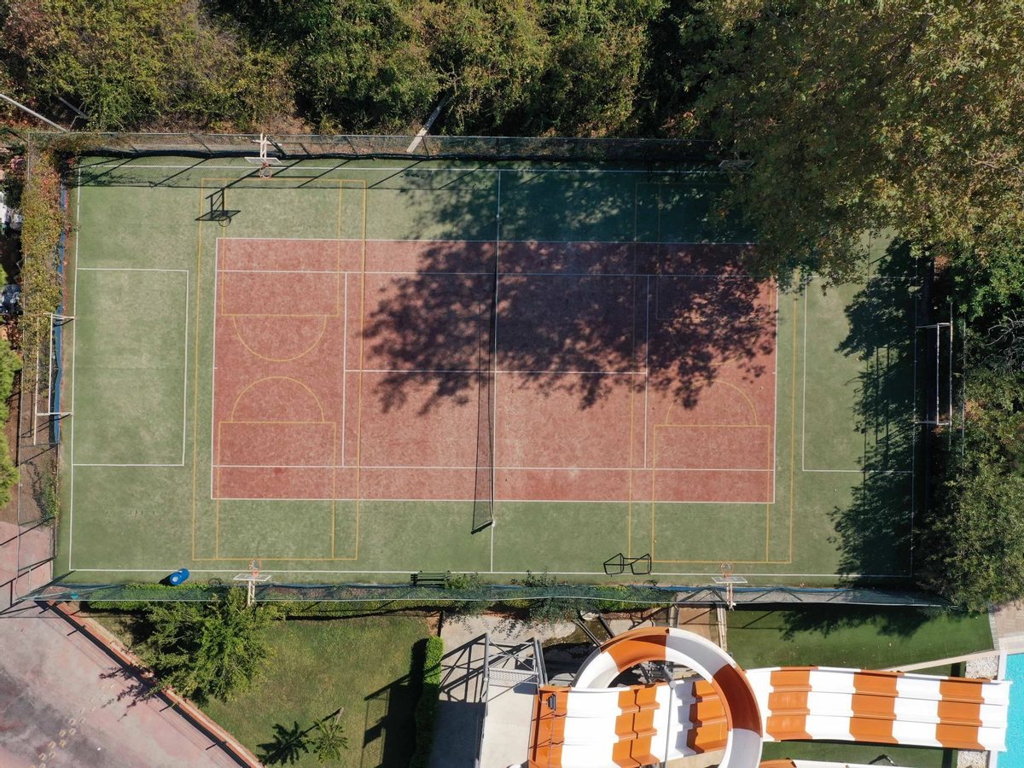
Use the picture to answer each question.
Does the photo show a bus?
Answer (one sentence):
No, the scene contains no bus.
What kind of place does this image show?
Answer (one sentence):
The picture captures a sports ground.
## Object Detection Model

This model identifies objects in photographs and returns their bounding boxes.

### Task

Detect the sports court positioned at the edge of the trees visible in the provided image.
[53,152,931,590]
